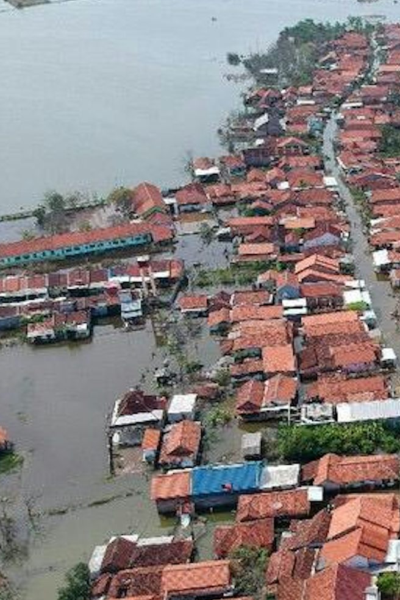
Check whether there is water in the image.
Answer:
Yes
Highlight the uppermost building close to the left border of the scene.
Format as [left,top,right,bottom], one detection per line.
[0,223,154,267]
